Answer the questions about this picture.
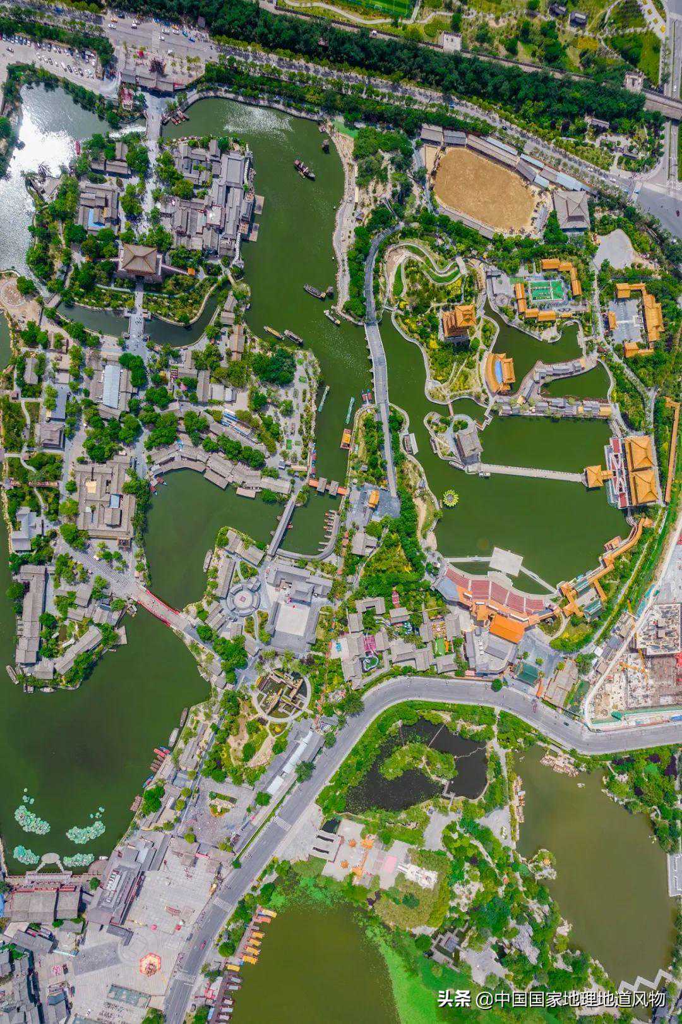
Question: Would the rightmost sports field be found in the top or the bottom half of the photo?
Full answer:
The top half of the photo is where the rightmost sports field is.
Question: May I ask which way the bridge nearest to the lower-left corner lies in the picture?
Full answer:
The bridge nearest to the lower-left corner is laid out diagonally.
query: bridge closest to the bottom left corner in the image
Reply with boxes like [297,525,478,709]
[135,585,181,626]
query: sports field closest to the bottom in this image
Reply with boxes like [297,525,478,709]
[431,145,537,233]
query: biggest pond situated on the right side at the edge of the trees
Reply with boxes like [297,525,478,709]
[344,718,487,814]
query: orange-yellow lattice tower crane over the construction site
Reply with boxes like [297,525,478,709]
[617,596,649,689]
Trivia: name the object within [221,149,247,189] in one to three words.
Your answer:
building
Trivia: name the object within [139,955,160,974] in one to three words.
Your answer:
fountain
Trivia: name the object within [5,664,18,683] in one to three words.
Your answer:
boat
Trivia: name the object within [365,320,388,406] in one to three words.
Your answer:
bridge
